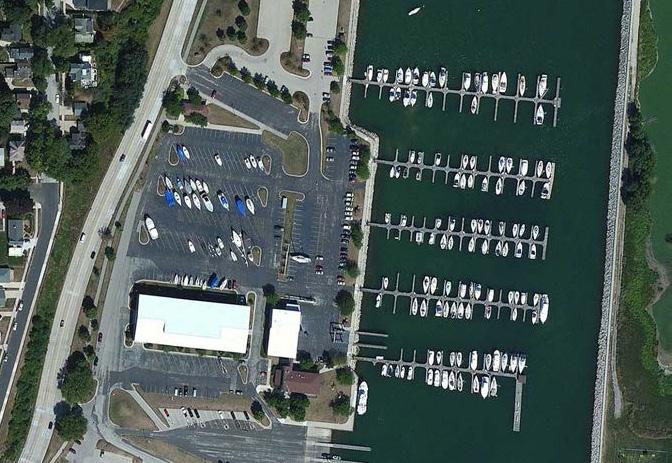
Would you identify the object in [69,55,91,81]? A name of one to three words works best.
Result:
house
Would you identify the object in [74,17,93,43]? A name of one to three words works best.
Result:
house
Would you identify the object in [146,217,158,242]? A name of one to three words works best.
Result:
boat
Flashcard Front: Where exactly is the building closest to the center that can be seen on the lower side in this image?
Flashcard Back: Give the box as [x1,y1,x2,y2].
[267,310,301,358]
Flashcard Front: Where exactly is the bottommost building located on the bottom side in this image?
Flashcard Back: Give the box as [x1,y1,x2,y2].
[274,365,321,397]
